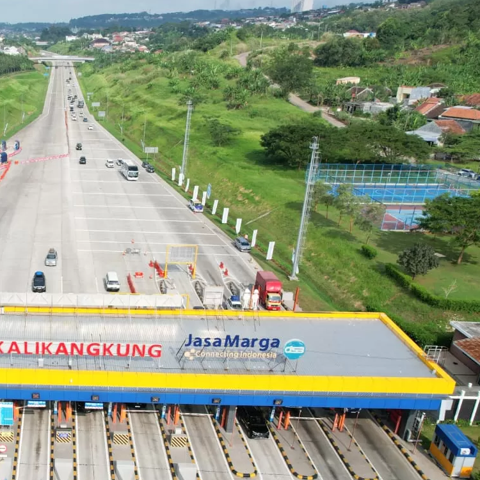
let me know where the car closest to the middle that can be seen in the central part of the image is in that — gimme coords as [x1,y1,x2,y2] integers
[228,234,253,250]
